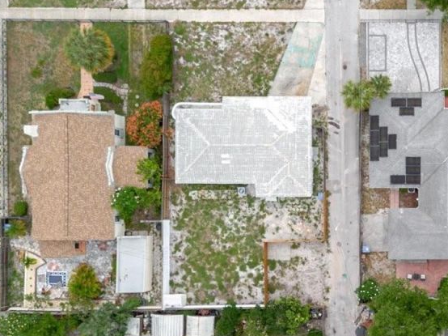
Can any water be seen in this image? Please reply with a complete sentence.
No, the picture contains no water.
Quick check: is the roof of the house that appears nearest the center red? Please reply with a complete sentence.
No, from above the roof of the house that appears nearest the center looks white.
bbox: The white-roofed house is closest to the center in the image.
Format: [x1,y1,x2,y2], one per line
[173,97,313,200]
